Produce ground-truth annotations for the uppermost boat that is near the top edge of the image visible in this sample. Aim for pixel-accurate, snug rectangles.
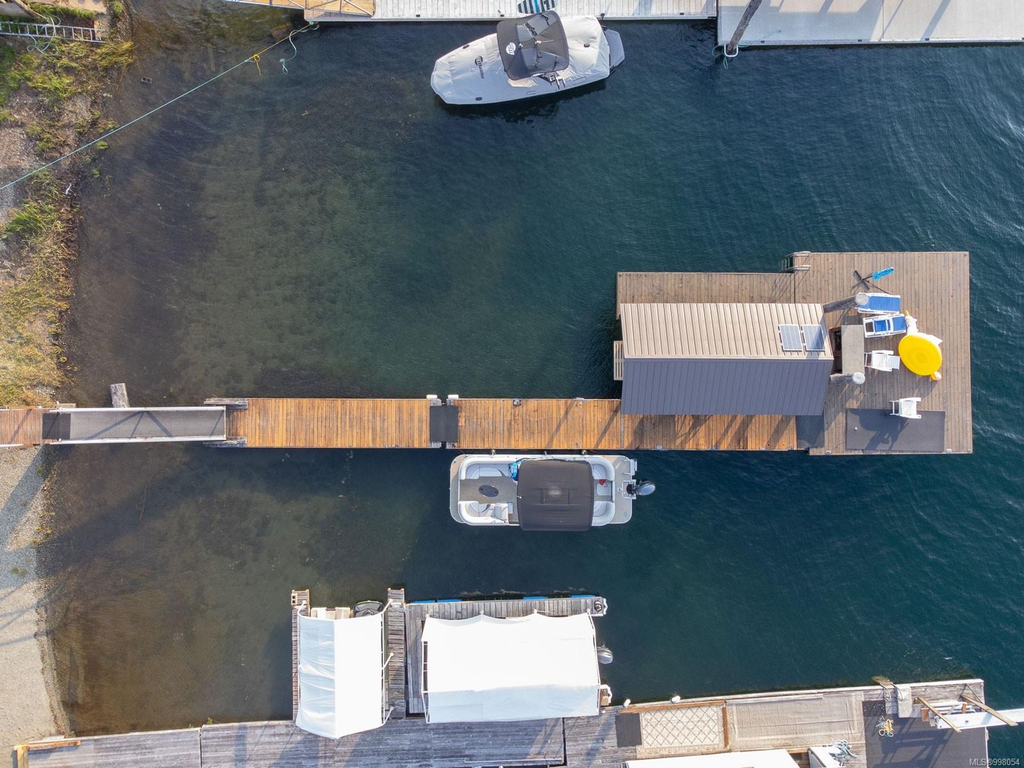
[431,11,625,109]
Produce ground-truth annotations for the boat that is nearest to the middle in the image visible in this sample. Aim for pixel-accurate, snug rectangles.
[449,454,656,530]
